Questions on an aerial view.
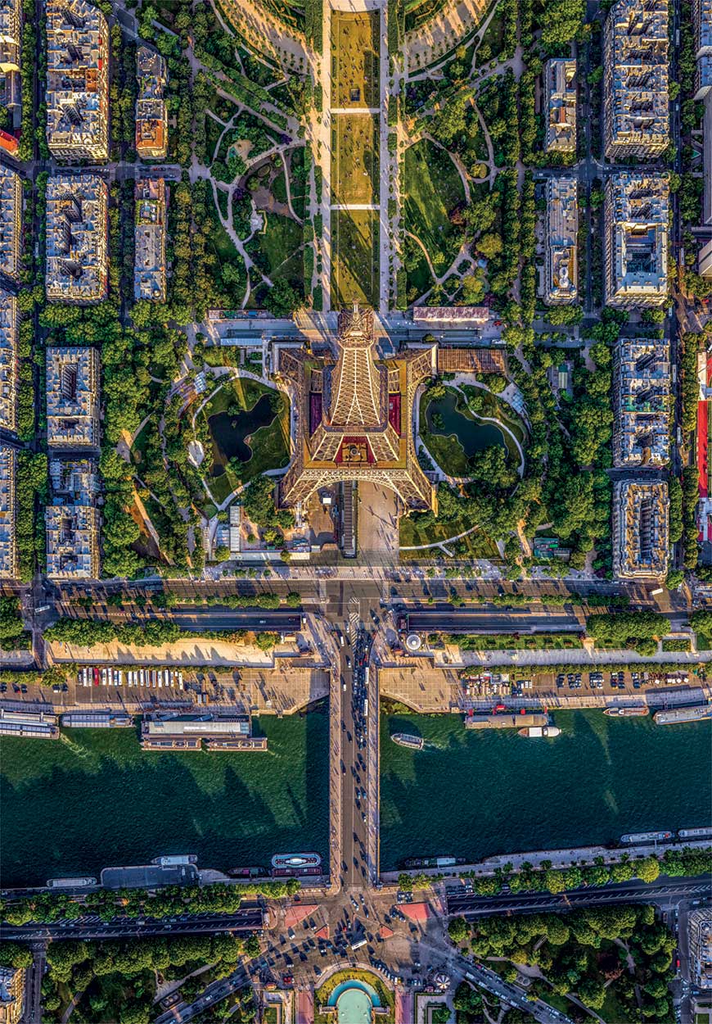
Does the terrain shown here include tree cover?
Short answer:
Yes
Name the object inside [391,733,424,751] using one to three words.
boat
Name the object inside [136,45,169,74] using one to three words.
house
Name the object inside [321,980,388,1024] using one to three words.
fountain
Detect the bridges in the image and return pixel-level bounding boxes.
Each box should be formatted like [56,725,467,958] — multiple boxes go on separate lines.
[328,664,381,891]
